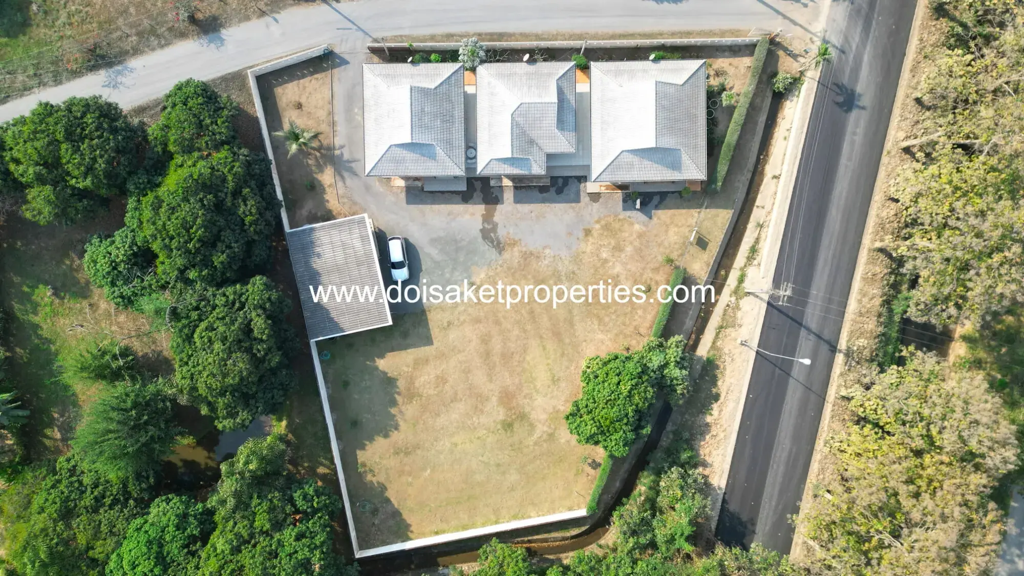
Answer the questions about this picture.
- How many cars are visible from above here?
1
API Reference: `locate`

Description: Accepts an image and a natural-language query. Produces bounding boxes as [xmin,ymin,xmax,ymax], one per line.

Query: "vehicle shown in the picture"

[387,237,410,281]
